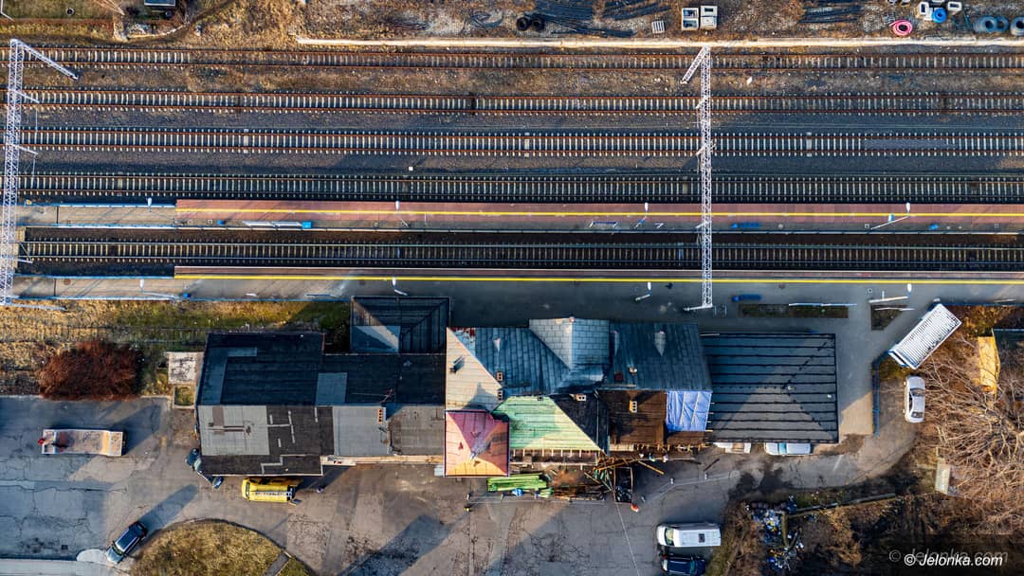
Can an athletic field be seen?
No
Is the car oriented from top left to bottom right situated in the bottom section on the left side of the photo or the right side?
left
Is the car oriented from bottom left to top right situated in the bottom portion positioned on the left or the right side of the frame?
left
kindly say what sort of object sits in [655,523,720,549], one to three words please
vehicle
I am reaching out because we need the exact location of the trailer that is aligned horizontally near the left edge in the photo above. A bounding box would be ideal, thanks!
[35,429,127,455]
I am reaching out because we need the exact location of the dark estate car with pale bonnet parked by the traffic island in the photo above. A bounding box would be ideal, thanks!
[102,523,146,564]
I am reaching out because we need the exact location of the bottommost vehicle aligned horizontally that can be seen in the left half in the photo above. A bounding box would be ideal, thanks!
[248,476,303,502]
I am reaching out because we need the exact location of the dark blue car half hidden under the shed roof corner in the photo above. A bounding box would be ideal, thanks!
[185,447,224,489]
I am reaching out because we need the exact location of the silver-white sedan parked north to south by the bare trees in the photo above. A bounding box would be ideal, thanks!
[903,375,928,421]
